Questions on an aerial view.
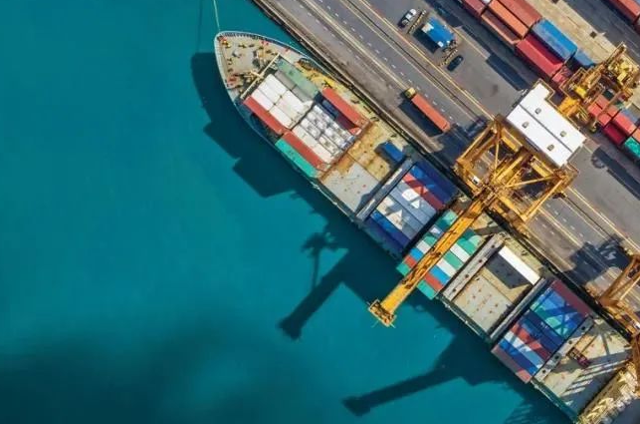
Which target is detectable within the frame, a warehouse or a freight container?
freight container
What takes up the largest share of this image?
water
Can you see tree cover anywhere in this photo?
No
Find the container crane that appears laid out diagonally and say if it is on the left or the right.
right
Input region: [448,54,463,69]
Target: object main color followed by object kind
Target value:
black car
